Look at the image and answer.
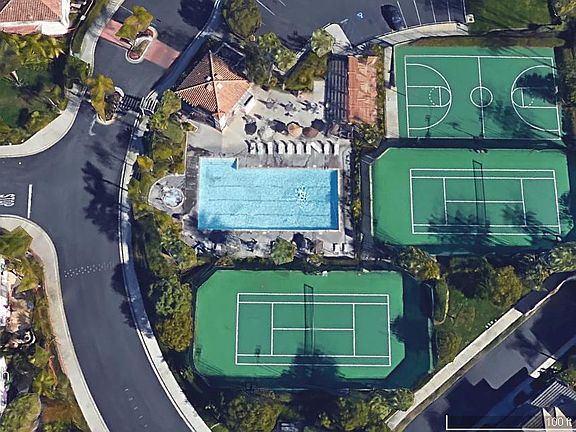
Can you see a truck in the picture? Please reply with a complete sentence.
No, no truck can be seen from above.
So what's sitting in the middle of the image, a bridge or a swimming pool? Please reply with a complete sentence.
The one visible in the middle of the image is a swimming pool.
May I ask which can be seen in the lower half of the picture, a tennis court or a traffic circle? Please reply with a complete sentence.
Looking in the lower half of the picture, you will find a tennis court.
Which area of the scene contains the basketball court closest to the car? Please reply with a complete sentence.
The basketball court closest to the car appears toward the top right of the photo.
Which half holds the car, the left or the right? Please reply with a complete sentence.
You can find the car on the right side of the picture.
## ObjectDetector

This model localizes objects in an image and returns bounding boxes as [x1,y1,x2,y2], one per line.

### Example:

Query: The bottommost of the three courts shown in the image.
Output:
[195,271,431,390]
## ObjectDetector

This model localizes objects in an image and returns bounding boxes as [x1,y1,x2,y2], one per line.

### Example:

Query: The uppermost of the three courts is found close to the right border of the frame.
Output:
[396,48,566,142]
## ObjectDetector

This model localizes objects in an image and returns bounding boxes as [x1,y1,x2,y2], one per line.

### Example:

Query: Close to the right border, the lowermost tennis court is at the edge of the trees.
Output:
[372,149,576,256]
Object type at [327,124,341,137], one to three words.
umbrella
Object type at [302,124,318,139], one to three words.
umbrella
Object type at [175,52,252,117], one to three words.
building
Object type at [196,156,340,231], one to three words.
swimming pool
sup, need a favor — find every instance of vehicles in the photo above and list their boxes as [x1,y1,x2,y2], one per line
[382,3,402,28]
